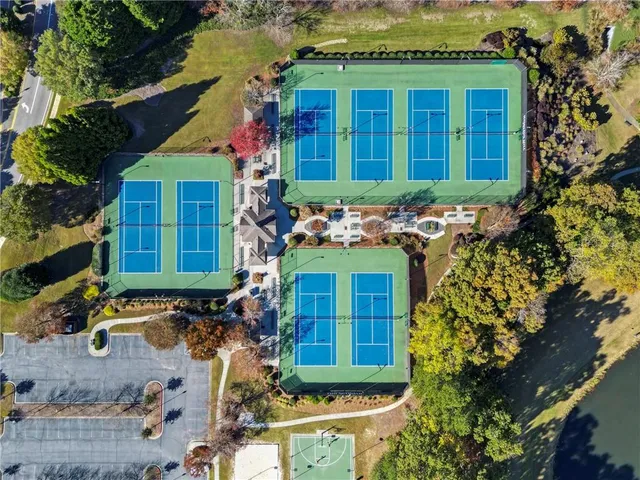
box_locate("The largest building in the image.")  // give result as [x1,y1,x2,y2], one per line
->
[238,185,276,266]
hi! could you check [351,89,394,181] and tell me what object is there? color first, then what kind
blue tennis court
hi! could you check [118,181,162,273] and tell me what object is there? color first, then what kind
blue tennis court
